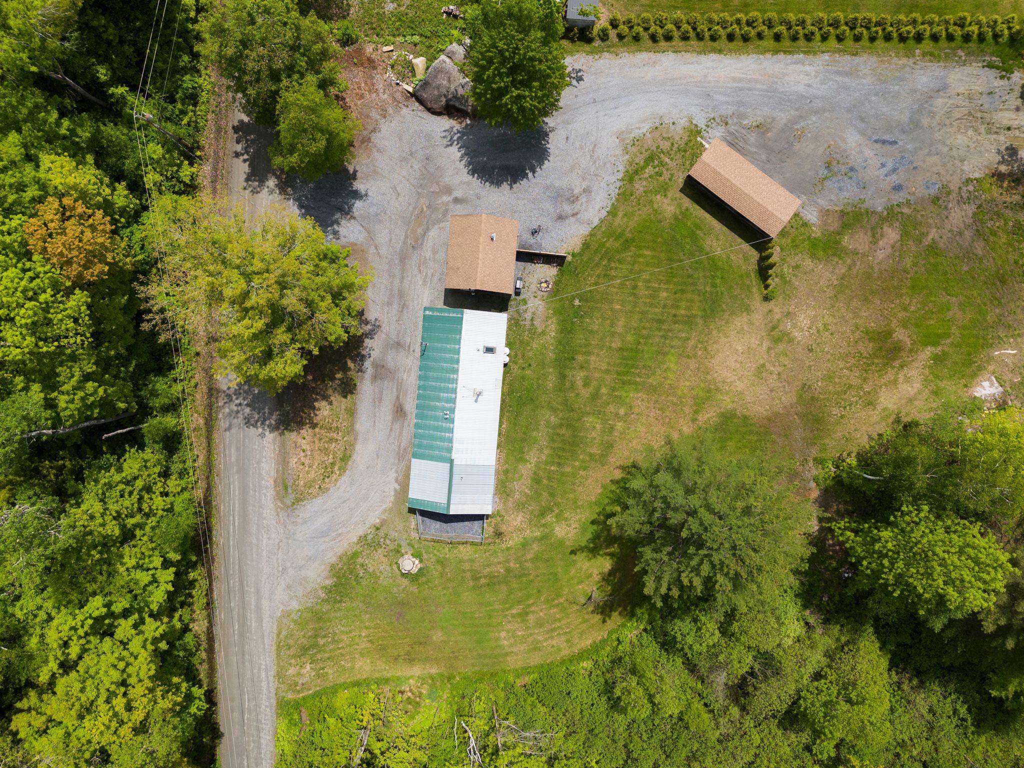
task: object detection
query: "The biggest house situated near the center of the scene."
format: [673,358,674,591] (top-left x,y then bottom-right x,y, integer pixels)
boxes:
[409,307,507,514]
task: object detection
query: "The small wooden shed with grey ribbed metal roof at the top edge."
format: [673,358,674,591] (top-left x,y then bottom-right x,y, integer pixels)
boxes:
[566,0,600,28]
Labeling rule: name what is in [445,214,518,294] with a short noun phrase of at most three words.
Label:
building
